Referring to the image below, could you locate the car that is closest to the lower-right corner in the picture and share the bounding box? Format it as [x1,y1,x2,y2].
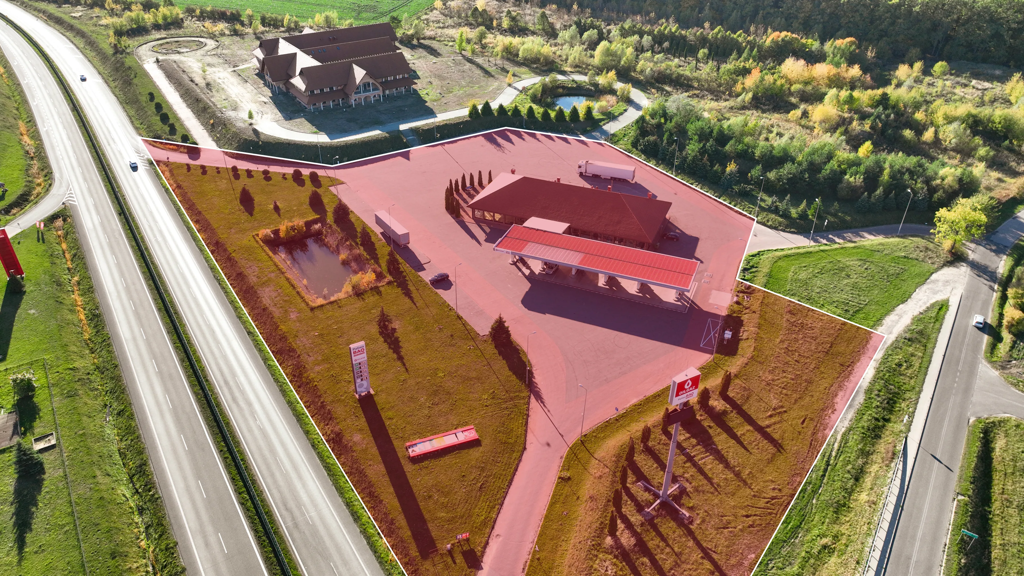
[973,316,987,330]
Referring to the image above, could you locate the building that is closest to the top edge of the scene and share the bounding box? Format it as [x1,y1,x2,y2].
[246,21,423,112]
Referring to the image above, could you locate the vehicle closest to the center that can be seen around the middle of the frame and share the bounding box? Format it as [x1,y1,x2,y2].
[545,263,559,275]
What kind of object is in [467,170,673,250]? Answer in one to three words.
building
